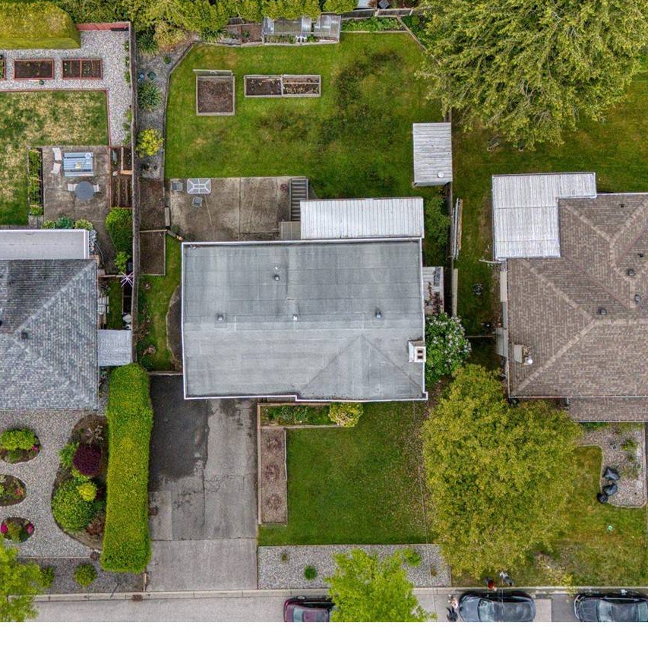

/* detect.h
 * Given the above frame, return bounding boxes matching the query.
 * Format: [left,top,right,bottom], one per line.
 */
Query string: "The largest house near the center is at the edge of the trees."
[183,240,430,404]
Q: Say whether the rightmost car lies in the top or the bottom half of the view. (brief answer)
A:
bottom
